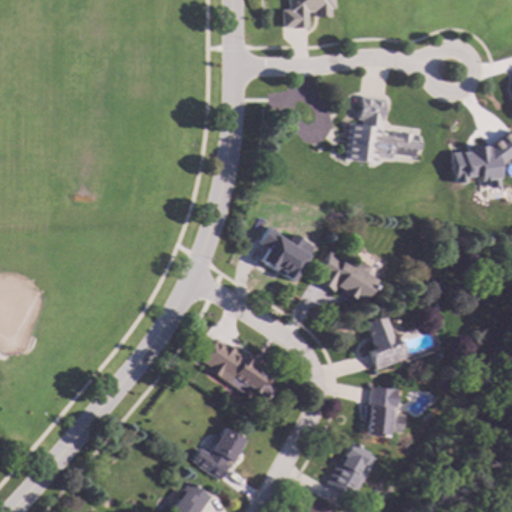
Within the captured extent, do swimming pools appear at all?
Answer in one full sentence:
Yes, a swimming pool appears in the view.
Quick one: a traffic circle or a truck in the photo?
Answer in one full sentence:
It is a traffic circle that can be seen here.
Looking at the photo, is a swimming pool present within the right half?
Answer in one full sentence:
Yes, a swimming pool is visible within the right half.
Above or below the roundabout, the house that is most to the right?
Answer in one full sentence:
The house that is most to the right is below the roundabout.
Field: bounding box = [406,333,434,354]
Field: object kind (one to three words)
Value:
swimming pool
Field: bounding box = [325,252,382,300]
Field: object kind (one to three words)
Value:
house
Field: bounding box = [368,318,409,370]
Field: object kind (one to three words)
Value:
house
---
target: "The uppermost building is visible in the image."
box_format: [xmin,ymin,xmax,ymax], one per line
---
[283,0,340,29]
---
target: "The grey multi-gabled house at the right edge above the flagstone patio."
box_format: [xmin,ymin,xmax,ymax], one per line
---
[450,133,512,186]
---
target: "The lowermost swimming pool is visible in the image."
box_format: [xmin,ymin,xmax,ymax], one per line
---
[405,390,435,417]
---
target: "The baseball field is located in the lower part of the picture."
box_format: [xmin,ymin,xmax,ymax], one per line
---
[0,272,42,362]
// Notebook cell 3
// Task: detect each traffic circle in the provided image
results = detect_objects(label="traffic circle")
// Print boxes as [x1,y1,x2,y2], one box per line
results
[415,42,480,103]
